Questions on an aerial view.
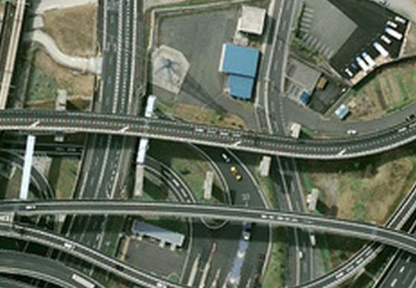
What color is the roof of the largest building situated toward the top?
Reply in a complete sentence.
The color of the roof on the largest building situated toward the top is blue.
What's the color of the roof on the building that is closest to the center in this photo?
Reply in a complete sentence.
From above, the roof of the building that is closest to the center looks blue.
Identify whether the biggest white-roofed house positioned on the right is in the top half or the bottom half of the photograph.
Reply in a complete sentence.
Seen from above, the biggest white-roofed house positioned on the right lies in the top half of the view.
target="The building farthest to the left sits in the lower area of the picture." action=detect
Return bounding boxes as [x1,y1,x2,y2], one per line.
[132,221,185,250]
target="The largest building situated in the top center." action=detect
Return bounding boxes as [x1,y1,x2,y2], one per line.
[221,44,260,78]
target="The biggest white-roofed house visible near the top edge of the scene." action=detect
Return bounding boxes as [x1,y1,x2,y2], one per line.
[239,6,265,35]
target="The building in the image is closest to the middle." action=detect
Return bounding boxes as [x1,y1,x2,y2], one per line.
[228,75,254,99]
